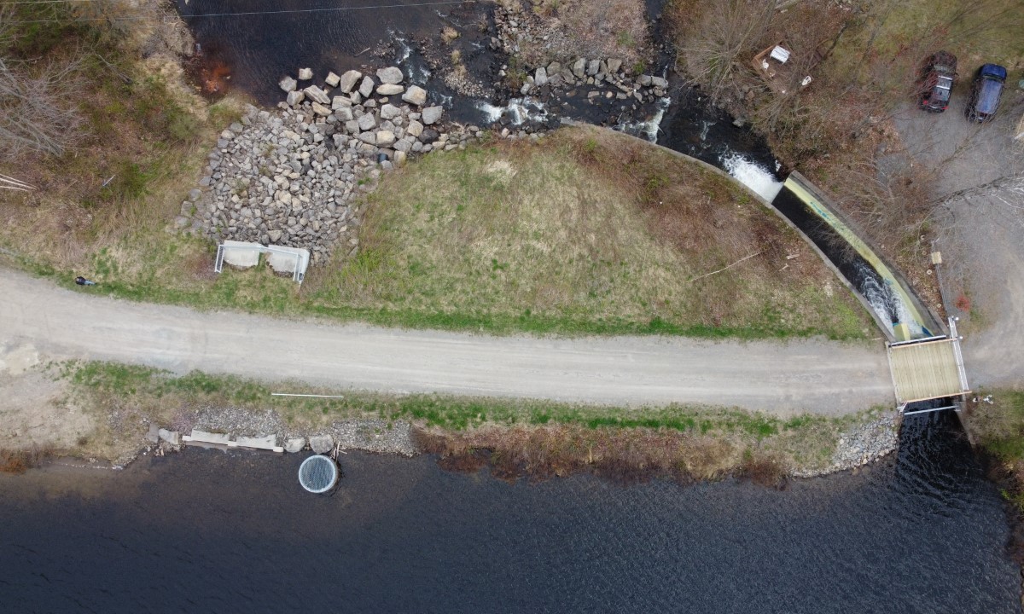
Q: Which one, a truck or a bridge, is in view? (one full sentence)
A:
This aerial view contains a bridge.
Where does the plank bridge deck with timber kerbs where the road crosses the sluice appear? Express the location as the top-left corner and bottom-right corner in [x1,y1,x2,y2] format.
[889,336,969,405]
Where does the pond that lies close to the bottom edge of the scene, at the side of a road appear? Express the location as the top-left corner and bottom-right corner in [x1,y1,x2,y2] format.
[0,394,1024,614]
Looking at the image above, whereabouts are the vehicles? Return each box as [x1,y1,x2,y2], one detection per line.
[964,62,1007,128]
[917,51,956,116]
